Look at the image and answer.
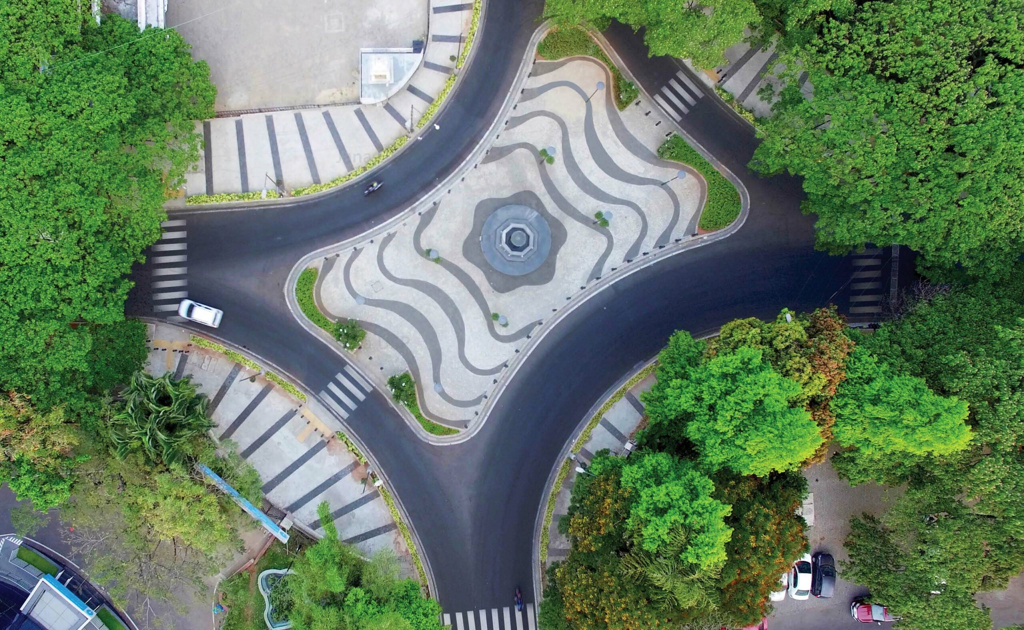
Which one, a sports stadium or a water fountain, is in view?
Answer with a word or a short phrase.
water fountain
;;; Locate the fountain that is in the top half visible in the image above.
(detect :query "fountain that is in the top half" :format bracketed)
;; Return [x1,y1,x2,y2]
[480,204,552,275]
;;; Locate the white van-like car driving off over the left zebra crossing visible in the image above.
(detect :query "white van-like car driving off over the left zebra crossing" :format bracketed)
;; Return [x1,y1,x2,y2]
[178,300,224,328]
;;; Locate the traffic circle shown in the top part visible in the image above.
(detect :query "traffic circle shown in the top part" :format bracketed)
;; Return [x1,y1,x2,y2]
[284,14,750,446]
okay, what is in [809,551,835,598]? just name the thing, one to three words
car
